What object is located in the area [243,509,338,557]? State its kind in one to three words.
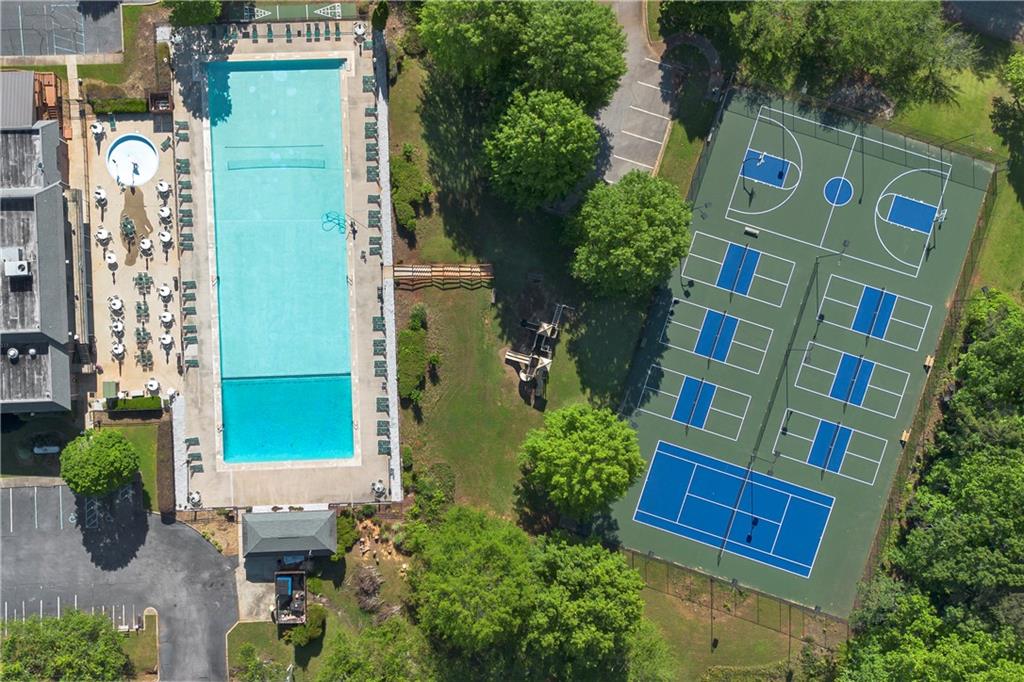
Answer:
building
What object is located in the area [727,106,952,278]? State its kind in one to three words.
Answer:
basketball court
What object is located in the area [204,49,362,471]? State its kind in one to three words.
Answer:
swimming pool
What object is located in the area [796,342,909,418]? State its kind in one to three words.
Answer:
sports court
